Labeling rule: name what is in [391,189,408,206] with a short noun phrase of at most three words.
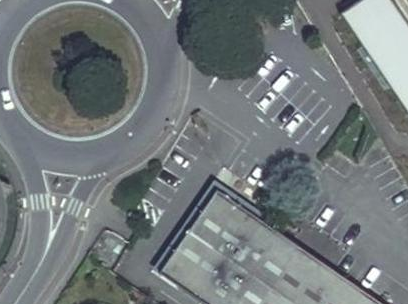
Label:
car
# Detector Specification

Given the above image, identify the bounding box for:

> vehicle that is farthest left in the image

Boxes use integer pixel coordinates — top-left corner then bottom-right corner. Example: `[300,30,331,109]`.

[0,88,13,109]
